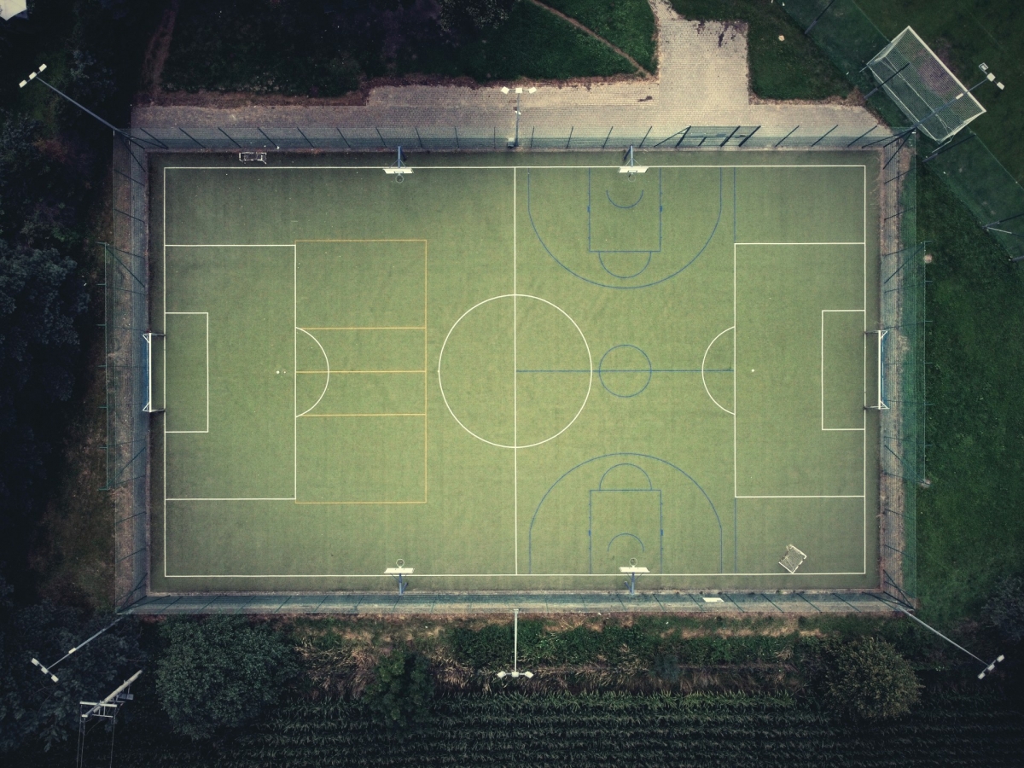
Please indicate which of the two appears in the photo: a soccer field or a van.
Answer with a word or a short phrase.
soccer field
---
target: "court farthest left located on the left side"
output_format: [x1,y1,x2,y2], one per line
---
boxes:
[296,239,427,504]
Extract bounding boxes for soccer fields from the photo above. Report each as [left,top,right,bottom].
[146,148,884,595]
